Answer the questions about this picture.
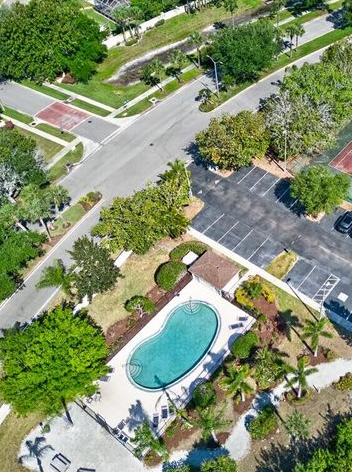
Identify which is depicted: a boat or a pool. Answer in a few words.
pool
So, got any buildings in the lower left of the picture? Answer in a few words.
No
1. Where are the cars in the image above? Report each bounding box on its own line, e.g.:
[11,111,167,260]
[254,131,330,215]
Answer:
[336,211,352,234]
